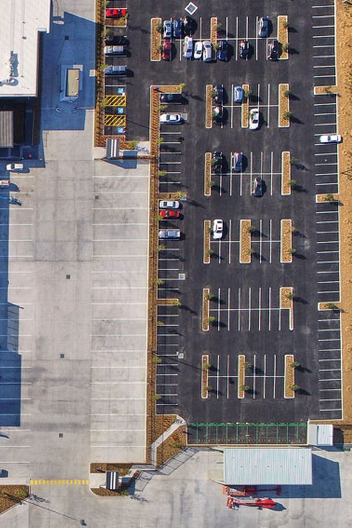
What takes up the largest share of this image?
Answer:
paved ground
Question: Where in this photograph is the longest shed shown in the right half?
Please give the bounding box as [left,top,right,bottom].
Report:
[210,446,313,485]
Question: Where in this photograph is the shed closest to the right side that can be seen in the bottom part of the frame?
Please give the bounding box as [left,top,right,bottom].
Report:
[311,425,333,445]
